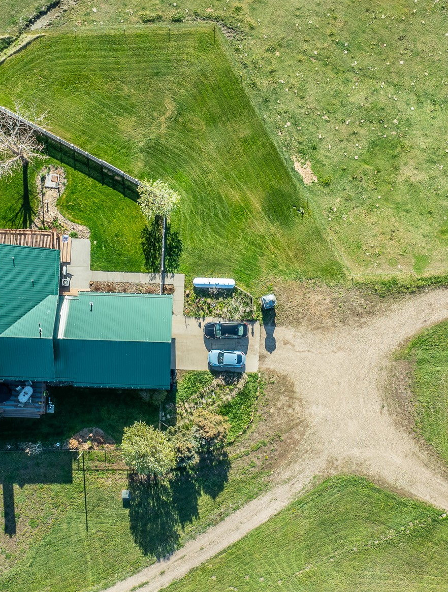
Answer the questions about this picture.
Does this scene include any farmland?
Yes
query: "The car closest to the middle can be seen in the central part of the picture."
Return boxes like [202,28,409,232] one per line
[204,321,248,340]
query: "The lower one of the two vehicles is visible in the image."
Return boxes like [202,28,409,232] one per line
[208,350,245,369]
